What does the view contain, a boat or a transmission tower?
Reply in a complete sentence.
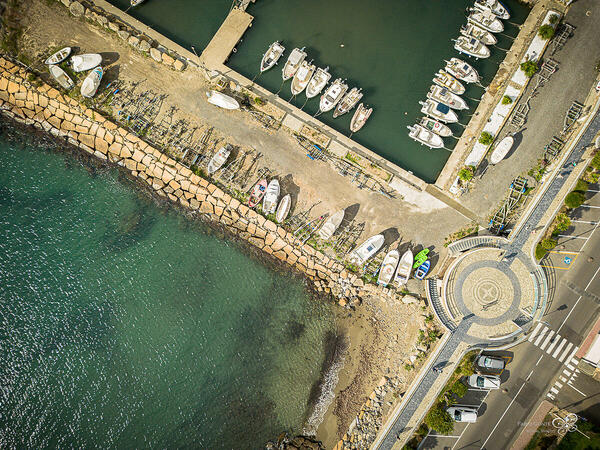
It is a boat that can be seen here.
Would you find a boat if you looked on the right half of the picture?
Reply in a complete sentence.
Yes, a boat is visible on the right half of the picture.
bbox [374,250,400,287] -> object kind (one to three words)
boat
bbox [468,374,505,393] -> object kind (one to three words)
car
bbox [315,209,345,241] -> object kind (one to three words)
boat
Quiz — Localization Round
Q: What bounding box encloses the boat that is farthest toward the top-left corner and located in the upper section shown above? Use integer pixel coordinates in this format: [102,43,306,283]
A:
[44,48,73,65]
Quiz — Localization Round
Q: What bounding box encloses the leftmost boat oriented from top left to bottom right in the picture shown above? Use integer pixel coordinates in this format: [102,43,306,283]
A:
[50,64,79,93]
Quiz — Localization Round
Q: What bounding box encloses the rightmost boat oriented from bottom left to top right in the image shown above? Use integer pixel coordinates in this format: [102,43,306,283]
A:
[480,137,516,173]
